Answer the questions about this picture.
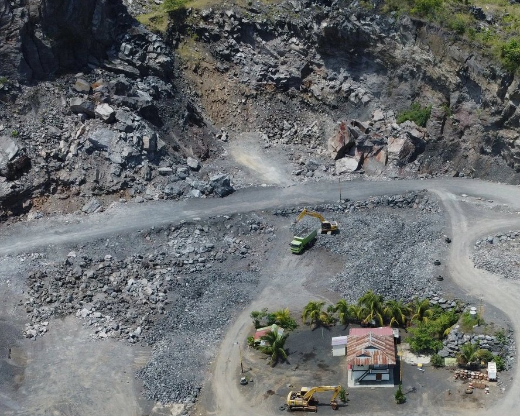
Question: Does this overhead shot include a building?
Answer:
Yes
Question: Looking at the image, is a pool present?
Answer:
No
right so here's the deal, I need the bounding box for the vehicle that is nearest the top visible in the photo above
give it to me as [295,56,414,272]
[294,204,340,233]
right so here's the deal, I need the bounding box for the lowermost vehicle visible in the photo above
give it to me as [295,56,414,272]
[285,382,341,415]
